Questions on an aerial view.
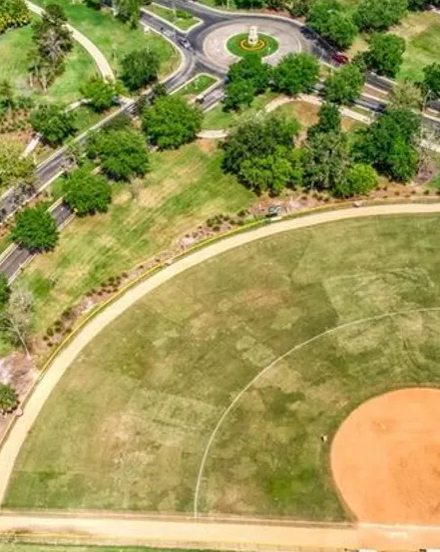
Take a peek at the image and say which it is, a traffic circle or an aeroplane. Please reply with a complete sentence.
I can see a traffic circle in this picture.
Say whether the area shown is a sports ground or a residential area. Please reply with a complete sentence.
What you see here is a sports ground.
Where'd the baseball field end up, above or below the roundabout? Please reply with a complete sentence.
The position of the baseball field is below the roundabout.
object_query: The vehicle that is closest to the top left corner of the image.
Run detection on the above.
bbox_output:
[160,23,176,36]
